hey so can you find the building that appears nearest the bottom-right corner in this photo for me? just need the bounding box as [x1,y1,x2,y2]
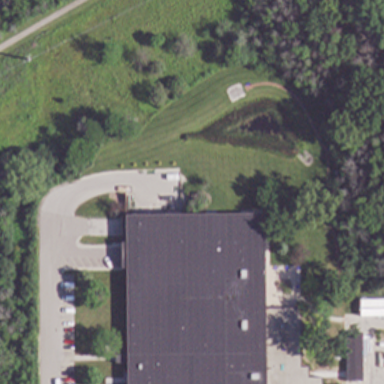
[348,335,364,382]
